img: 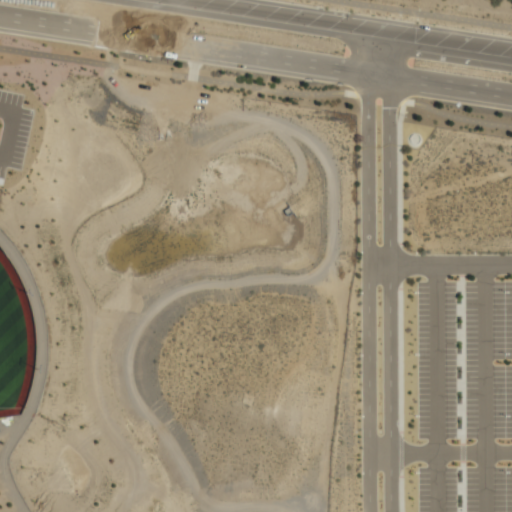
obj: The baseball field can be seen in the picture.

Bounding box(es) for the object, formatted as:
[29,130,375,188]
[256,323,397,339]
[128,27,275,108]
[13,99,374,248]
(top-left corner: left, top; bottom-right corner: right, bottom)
[0,247,36,417]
